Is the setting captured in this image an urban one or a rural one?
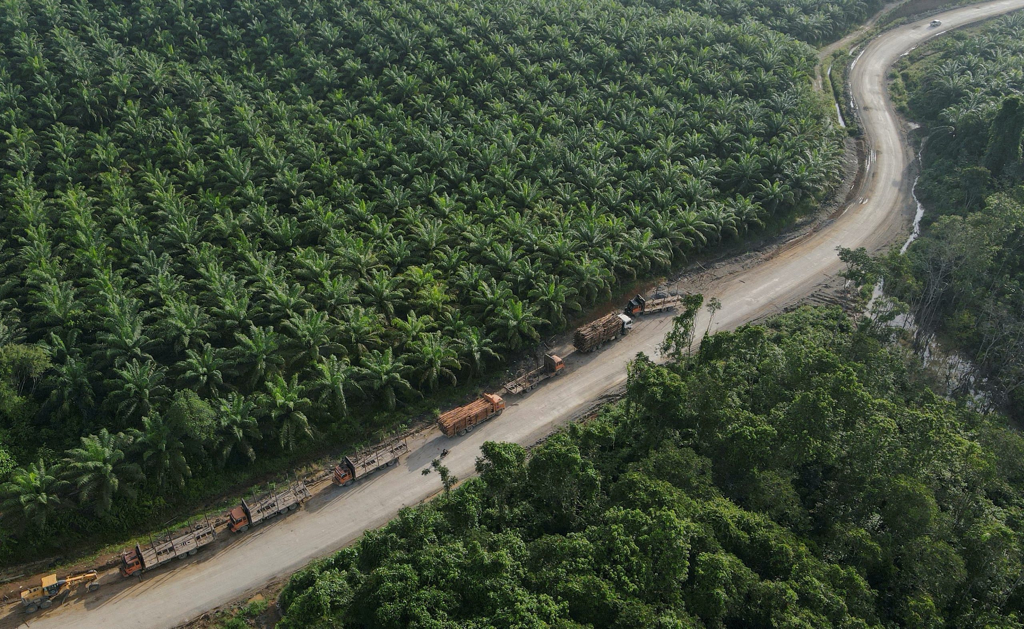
rural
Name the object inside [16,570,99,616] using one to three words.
work vehicle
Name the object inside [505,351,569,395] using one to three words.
truck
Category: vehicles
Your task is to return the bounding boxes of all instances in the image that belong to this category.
[439,390,508,438]
[223,473,310,535]
[117,517,211,578]
[623,284,686,317]
[929,20,943,28]
[329,431,408,488]
[505,351,569,395]
[574,313,632,352]
[16,570,99,616]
